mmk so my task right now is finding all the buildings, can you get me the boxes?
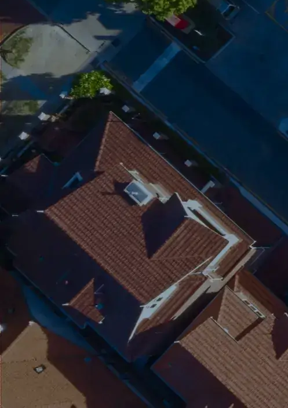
[0,282,161,408]
[0,111,258,361]
[152,271,288,408]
